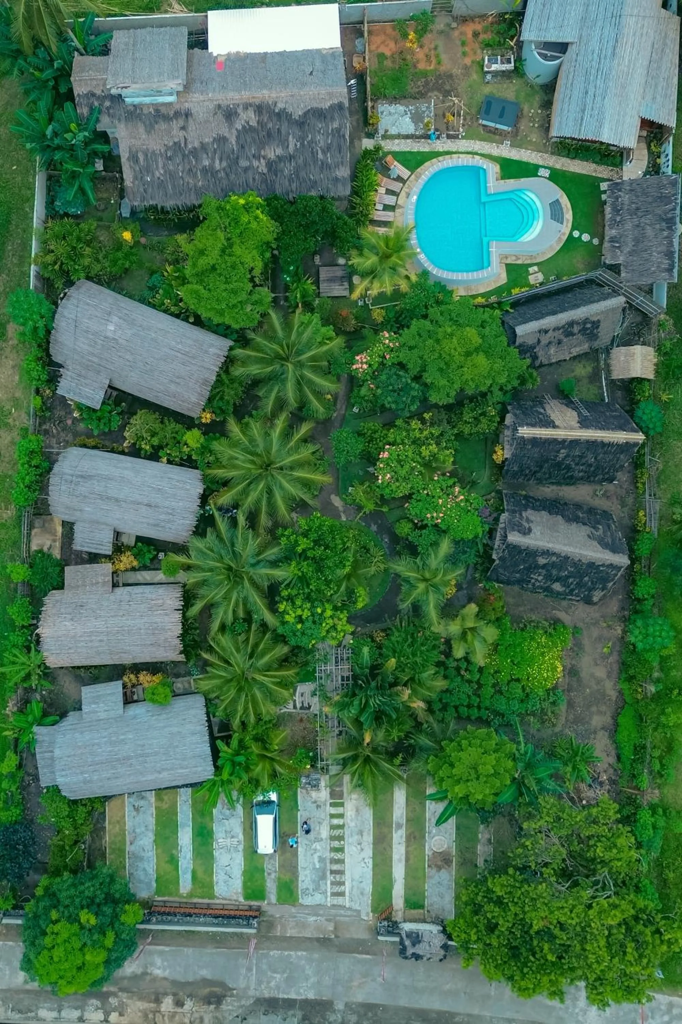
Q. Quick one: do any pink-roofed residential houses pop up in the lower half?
No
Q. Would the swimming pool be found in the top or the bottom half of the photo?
top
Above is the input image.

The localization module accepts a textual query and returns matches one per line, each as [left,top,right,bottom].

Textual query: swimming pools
[395,154,572,295]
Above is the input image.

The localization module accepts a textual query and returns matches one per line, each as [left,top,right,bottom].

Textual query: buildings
[482,489,632,610]
[500,397,648,485]
[481,96,519,136]
[500,281,630,372]
[69,24,354,218]
[521,0,682,170]
[38,564,188,668]
[50,279,234,417]
[48,446,203,555]
[595,173,682,283]
[34,681,216,800]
